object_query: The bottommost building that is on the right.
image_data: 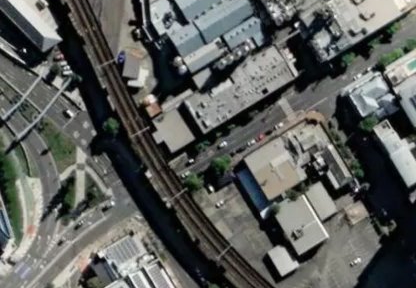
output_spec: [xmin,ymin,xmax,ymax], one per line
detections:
[268,245,299,277]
